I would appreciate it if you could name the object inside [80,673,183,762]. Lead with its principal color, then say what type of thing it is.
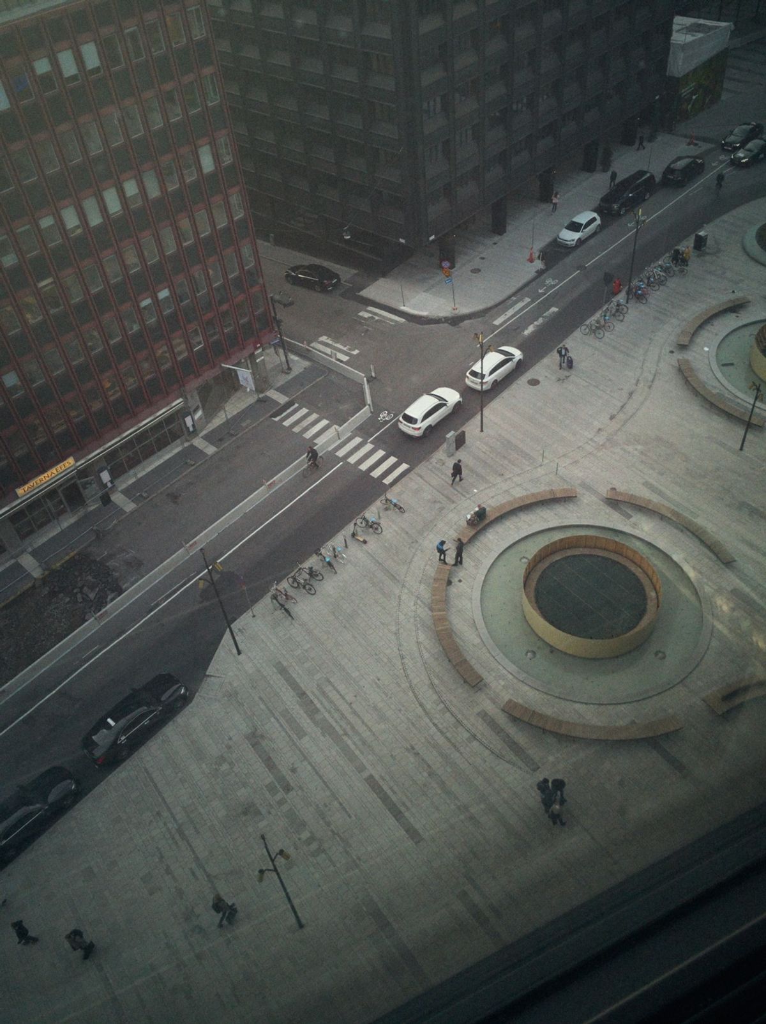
black car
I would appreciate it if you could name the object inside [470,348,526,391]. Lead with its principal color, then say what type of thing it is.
white car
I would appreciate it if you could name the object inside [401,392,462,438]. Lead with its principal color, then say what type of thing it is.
white car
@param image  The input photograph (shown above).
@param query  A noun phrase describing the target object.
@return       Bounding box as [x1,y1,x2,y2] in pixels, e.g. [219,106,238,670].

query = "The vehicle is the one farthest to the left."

[0,762,79,858]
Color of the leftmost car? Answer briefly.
black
